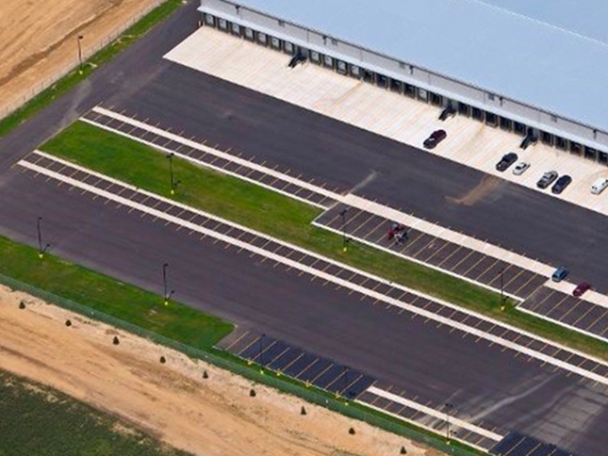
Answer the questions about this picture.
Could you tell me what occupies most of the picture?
paved ground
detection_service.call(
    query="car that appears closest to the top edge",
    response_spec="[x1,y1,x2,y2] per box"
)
[425,127,444,144]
